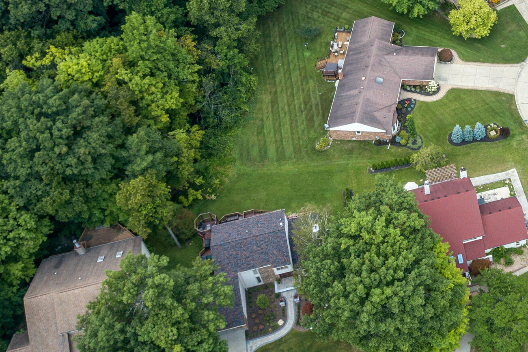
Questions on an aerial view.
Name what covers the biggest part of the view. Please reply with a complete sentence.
For the most part, this view shows trees.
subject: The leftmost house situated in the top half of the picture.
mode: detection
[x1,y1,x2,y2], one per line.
[313,15,441,145]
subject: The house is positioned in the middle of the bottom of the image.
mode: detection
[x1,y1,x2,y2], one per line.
[194,209,326,339]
